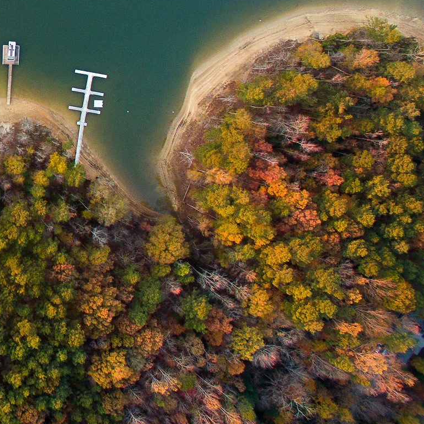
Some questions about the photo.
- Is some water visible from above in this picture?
Yes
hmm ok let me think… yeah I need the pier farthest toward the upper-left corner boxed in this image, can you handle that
[2,45,20,105]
